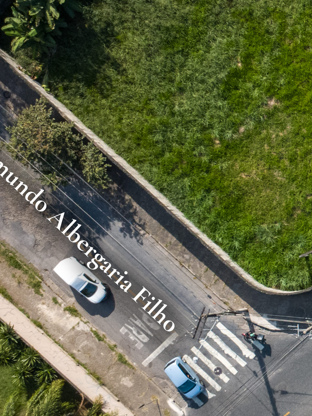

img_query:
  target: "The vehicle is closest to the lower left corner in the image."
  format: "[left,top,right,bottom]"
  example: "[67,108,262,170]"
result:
[53,257,108,301]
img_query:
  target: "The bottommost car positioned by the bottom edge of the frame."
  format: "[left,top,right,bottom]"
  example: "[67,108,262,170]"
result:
[165,357,205,398]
